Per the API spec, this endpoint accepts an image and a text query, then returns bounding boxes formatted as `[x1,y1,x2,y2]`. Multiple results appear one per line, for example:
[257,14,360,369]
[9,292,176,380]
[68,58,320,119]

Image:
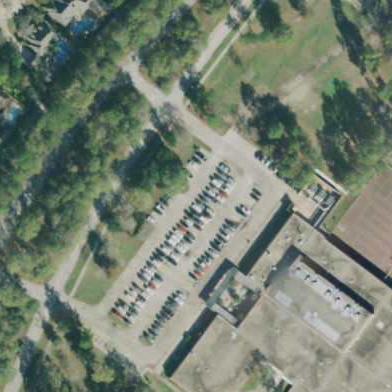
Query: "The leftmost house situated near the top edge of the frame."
[18,20,60,61]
